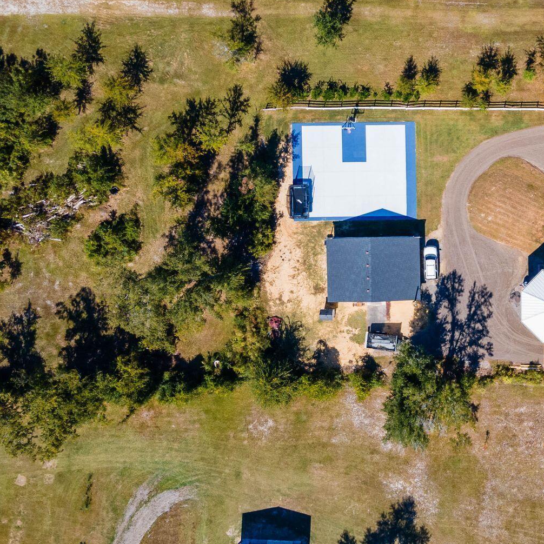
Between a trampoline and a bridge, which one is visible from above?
trampoline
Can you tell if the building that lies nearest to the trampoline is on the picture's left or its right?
right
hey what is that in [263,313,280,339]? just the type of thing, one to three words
work vehicle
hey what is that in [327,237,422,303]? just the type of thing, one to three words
building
